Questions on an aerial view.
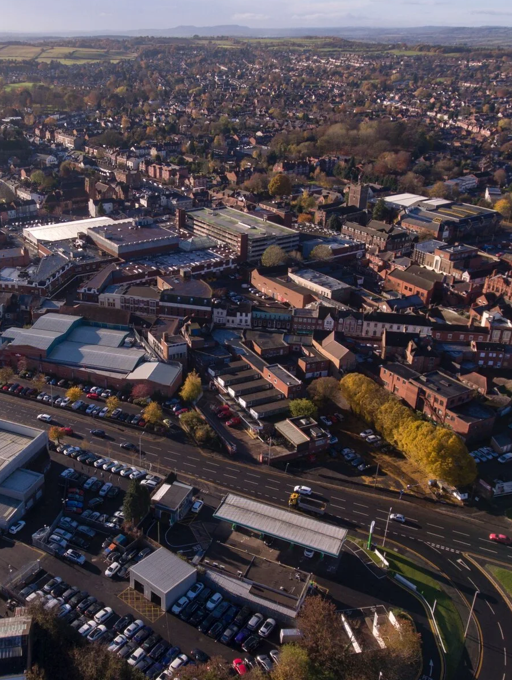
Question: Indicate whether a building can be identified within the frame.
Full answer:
Yes, the photo shows a building.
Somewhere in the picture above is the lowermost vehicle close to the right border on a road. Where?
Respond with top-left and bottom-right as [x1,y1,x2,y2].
[487,531,512,546]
